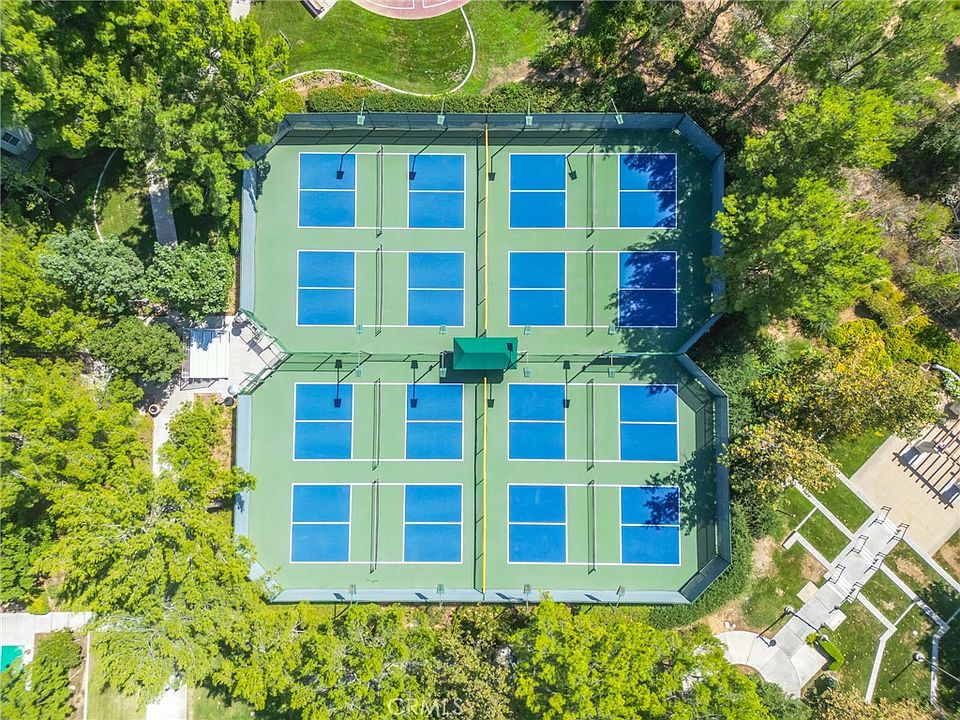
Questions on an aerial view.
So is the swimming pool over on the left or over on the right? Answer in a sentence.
It is on the left.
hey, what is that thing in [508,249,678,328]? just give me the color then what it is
blue sports court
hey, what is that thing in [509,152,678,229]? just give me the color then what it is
blue sports court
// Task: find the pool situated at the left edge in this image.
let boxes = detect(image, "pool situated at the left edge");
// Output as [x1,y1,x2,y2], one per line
[0,641,29,700]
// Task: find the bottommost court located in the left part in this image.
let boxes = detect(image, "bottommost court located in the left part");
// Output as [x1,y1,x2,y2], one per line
[290,483,463,564]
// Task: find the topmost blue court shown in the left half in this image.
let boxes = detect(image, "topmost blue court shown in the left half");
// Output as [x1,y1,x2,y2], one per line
[297,152,466,229]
